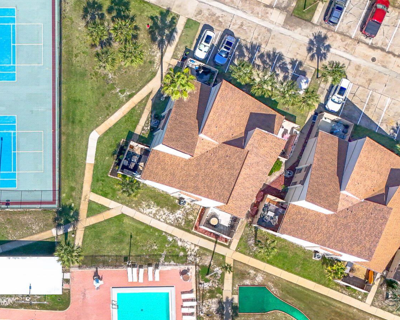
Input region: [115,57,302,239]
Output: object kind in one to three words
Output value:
house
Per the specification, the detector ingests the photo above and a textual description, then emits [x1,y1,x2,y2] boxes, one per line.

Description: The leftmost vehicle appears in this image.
[193,27,216,62]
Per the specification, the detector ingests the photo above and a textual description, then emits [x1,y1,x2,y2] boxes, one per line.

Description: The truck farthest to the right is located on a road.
[360,0,389,39]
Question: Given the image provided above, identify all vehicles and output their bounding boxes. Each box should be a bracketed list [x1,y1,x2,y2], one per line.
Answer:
[325,81,350,112]
[213,33,236,67]
[360,0,389,39]
[322,0,346,28]
[193,27,216,62]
